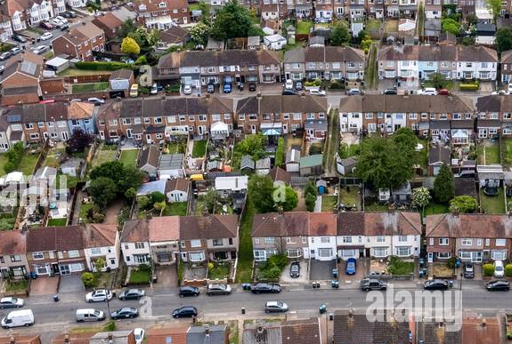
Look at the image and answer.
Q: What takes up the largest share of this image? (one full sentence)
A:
Most of the picture is covered by buildings.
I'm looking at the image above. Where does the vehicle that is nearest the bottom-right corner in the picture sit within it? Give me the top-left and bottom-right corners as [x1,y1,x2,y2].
[485,279,511,292]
